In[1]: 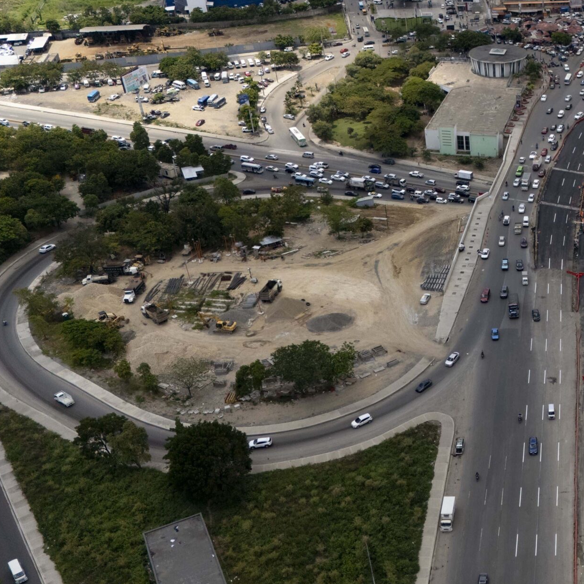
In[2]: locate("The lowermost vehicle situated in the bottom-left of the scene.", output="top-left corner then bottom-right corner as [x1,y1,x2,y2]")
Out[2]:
[7,554,27,584]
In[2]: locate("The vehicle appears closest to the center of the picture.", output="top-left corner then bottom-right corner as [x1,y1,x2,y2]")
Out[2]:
[257,280,282,302]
